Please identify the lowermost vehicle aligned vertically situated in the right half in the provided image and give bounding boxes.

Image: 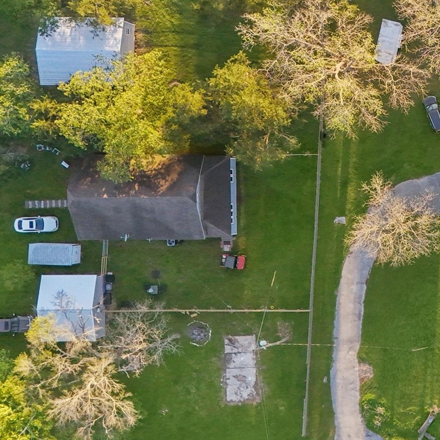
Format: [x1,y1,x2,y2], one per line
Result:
[421,94,440,136]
